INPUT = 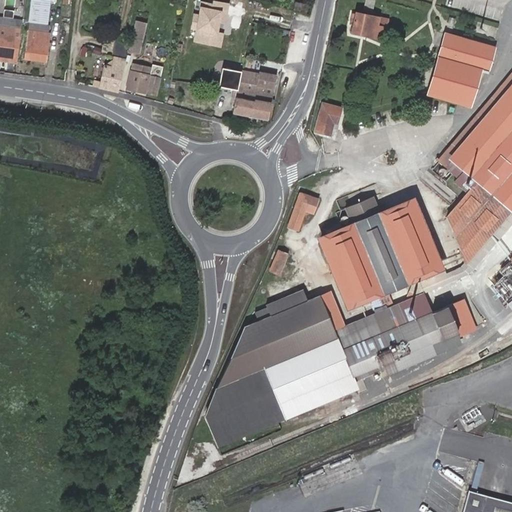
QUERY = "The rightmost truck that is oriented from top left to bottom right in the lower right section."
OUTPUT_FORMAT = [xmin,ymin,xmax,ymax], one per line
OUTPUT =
[434,461,466,486]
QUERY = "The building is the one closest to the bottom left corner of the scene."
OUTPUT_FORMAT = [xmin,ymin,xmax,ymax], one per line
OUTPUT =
[204,368,286,450]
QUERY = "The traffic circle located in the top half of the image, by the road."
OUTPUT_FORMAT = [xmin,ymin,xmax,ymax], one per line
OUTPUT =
[170,142,282,254]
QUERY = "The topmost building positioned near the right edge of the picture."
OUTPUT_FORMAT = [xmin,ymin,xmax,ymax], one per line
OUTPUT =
[428,30,498,108]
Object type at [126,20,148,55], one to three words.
shed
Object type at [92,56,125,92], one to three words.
house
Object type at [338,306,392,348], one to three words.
building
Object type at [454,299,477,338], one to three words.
building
